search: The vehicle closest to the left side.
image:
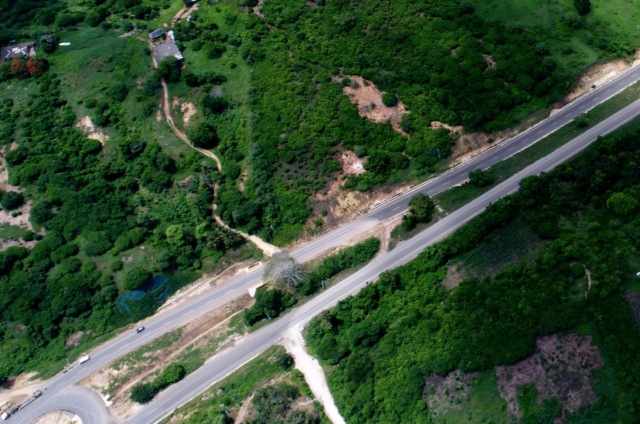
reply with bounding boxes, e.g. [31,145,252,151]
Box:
[1,392,42,421]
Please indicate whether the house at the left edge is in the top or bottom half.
top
